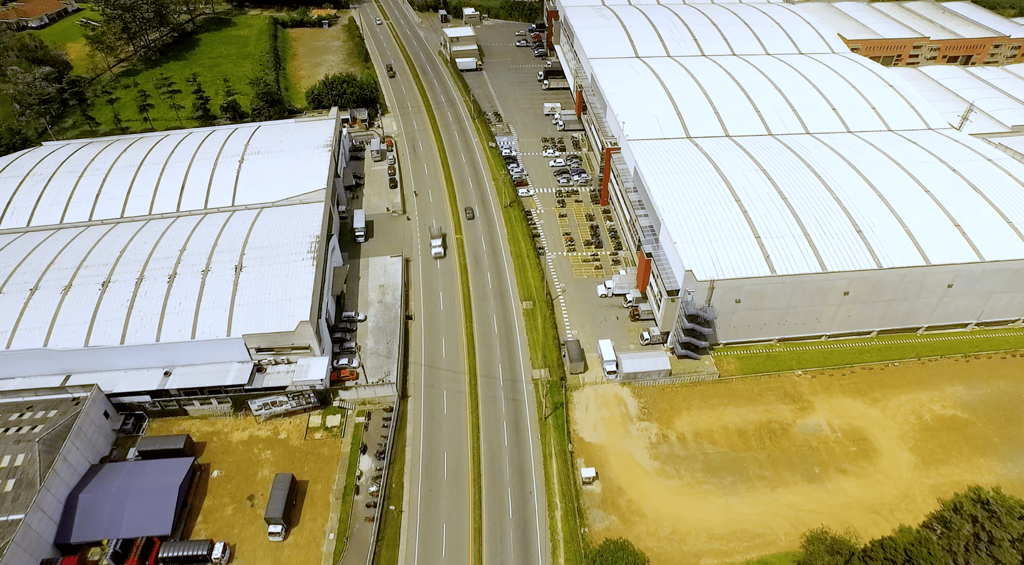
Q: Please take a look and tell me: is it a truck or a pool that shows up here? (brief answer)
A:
truck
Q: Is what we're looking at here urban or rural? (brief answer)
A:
urban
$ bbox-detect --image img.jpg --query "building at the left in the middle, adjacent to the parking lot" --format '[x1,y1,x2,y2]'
[0,104,359,414]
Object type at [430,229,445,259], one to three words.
vehicle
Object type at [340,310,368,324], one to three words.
car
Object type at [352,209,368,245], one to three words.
vehicle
